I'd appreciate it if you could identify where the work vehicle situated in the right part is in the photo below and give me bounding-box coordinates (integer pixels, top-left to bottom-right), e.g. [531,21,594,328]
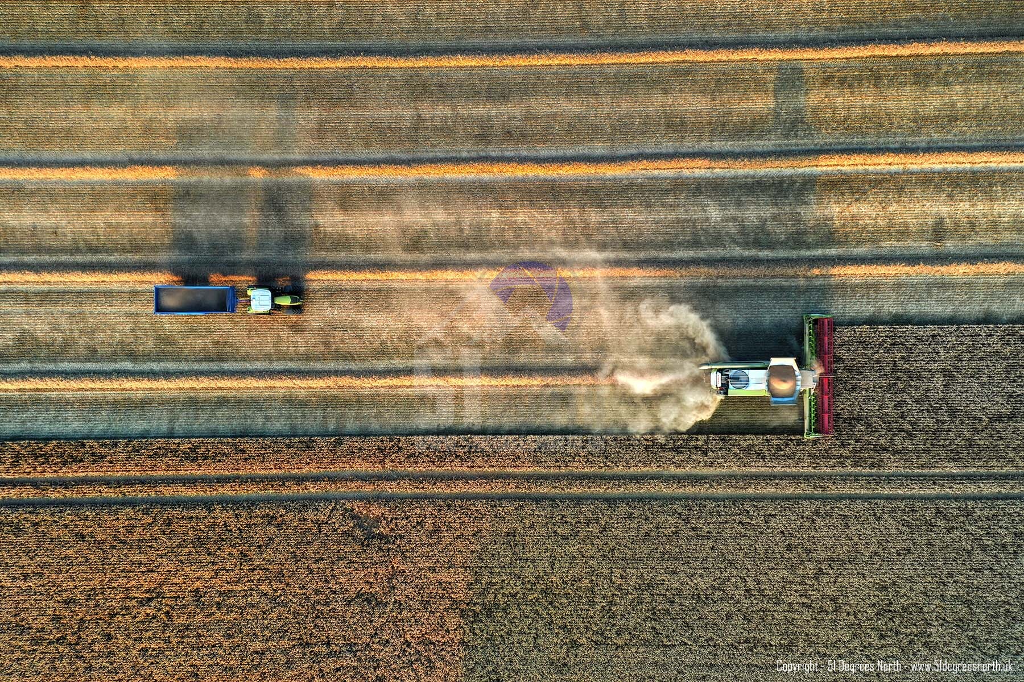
[690,314,834,438]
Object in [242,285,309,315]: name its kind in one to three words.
work vehicle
